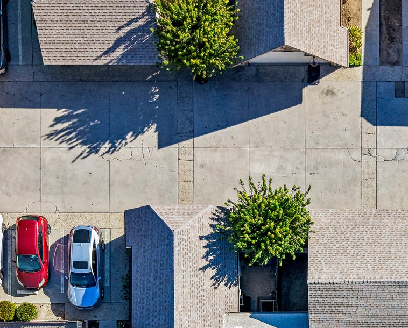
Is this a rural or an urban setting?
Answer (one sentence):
It looks urban.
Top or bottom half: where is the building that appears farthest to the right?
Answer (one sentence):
It is in the bottom half that the building that appears farthest to the right appears.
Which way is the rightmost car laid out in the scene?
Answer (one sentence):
The rightmost car has been laid out from top to bottom relative to the frame.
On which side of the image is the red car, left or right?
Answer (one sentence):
The red car appears in the left half of the scene.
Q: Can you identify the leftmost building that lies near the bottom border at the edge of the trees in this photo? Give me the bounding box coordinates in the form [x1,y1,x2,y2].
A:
[124,203,241,328]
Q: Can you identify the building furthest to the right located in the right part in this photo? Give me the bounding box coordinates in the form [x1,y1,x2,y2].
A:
[308,209,408,328]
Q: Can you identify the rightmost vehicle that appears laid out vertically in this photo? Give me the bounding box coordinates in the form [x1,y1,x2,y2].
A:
[64,226,105,311]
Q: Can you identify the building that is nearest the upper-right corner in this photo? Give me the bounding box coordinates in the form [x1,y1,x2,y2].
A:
[234,0,349,68]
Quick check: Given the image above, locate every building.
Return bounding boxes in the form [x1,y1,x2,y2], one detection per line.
[308,209,408,328]
[124,203,241,328]
[31,0,165,66]
[234,0,349,68]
